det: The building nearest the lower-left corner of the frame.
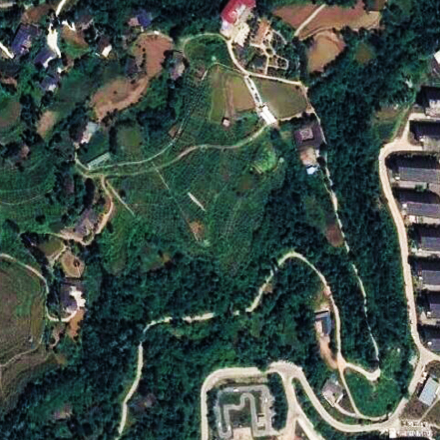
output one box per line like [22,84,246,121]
[61,284,78,312]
